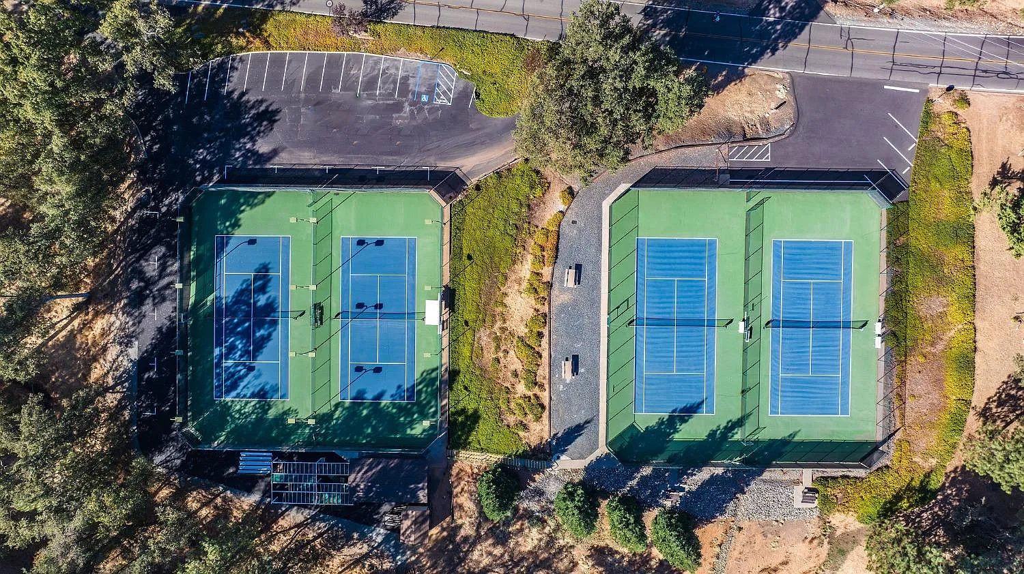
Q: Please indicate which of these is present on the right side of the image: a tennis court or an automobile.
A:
tennis court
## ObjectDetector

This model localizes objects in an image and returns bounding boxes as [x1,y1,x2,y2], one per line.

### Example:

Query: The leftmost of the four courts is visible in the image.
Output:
[190,191,317,444]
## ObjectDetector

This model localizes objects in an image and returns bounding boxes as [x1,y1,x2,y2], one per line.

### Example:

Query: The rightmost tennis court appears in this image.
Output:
[742,190,881,461]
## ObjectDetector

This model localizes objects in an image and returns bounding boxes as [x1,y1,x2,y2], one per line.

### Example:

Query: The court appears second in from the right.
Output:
[606,189,746,460]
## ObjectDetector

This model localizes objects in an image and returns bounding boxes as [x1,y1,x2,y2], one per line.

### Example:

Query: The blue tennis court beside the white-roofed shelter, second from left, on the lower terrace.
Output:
[316,191,442,444]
